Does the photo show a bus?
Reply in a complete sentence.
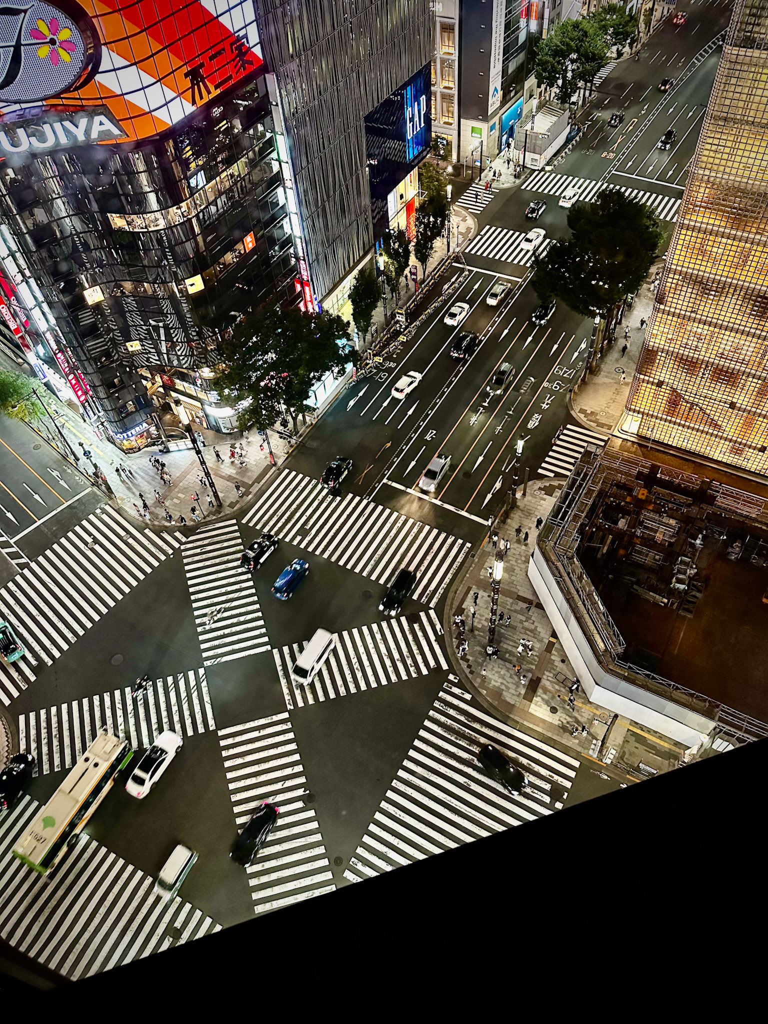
Yes, this view includes a bus.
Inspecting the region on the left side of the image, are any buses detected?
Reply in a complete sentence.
Yes, the scene does show a bus on the left side of the image.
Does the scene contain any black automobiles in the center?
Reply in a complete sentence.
Yes, the scene does show a black automobile in the center.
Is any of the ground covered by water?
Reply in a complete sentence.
No, there is no water in the image.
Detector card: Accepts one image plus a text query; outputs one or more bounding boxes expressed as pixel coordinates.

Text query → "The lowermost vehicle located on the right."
[473,736,532,801]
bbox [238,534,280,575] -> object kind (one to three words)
car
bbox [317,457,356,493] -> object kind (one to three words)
car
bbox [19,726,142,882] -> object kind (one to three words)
bus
